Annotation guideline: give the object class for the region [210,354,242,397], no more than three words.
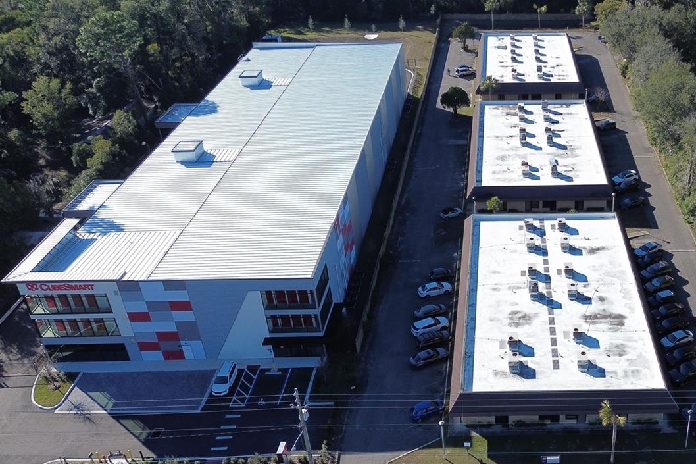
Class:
car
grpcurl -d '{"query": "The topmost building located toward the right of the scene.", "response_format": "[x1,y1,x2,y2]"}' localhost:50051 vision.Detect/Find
[475,33,586,101]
